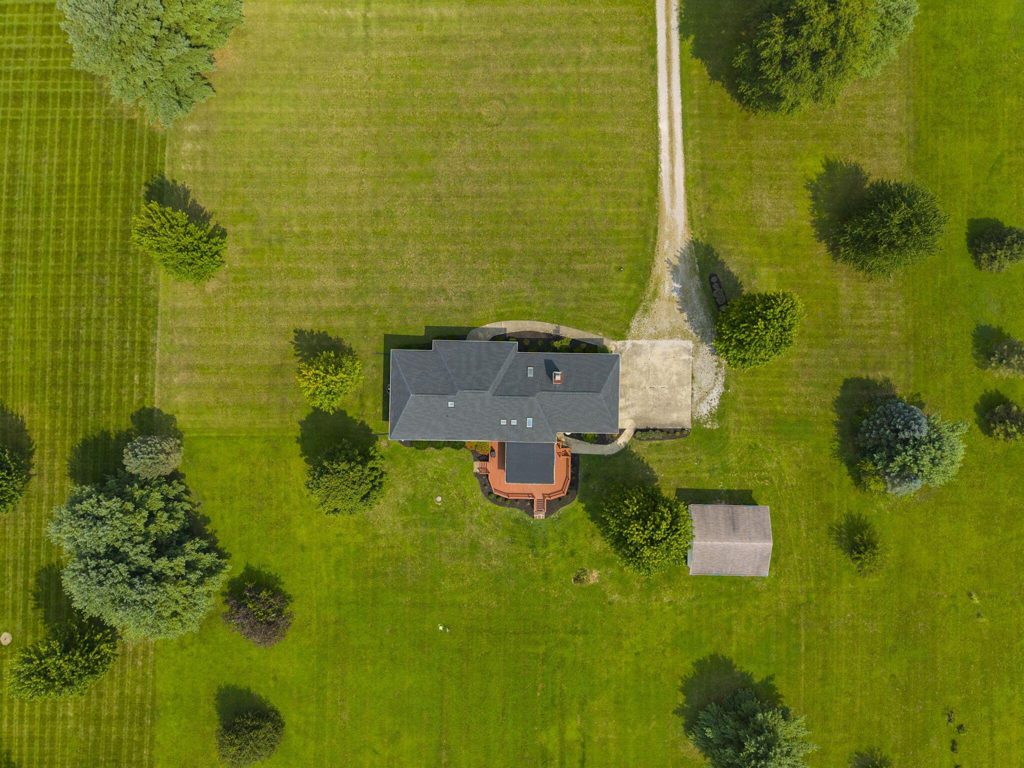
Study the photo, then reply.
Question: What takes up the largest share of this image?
grass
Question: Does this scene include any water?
No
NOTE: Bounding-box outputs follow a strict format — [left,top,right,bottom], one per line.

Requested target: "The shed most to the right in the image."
[685,504,773,576]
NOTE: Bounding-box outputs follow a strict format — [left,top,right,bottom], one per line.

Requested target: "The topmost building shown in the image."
[388,339,621,485]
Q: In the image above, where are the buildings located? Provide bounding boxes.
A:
[685,504,773,576]
[388,339,621,485]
